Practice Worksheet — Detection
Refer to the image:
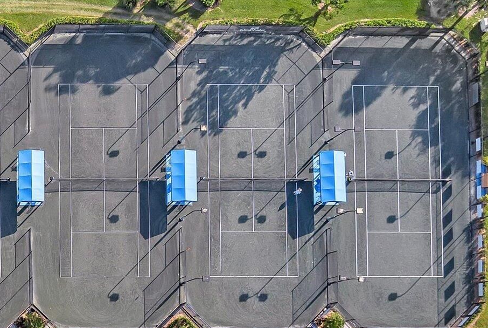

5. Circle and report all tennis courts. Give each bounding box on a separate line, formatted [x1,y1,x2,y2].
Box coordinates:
[0,35,32,328]
[323,35,472,328]
[177,33,329,328]
[29,33,182,328]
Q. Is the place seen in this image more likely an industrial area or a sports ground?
sports ground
